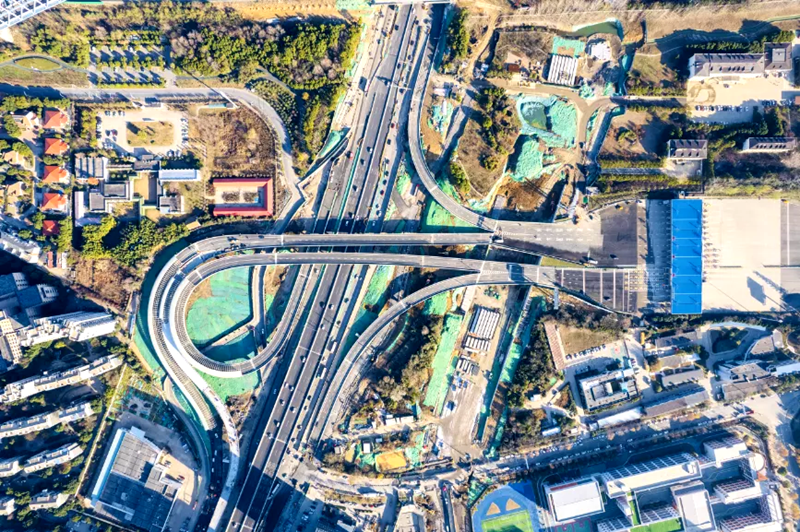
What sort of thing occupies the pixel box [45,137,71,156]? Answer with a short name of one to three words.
house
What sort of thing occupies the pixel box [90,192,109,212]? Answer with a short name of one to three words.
building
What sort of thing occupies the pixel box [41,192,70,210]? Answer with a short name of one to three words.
house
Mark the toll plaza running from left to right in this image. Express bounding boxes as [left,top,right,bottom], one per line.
[482,197,800,316]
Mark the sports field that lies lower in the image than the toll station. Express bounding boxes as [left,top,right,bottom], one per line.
[472,478,539,532]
